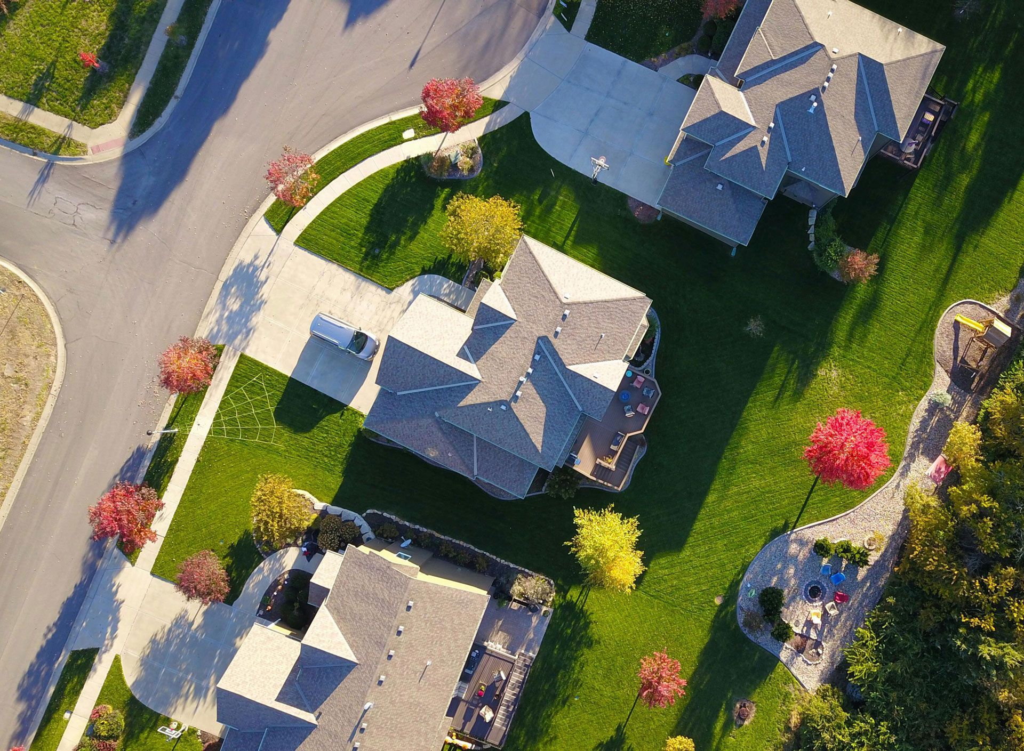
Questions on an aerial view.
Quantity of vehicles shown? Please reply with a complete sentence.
The count comes to 1 vehicle.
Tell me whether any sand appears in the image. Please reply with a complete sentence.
No, no sand is visible.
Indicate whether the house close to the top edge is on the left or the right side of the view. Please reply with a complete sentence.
The house close to the top edge sits on the right side.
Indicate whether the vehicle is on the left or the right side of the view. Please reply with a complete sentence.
The vehicle appears in the left half of the scene.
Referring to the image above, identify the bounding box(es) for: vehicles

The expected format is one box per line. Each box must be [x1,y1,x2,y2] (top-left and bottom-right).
[309,318,379,363]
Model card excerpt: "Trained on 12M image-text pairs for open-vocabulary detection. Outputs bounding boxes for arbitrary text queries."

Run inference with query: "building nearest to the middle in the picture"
[362,235,652,499]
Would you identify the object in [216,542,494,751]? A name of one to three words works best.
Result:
house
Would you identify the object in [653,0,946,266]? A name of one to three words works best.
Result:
house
